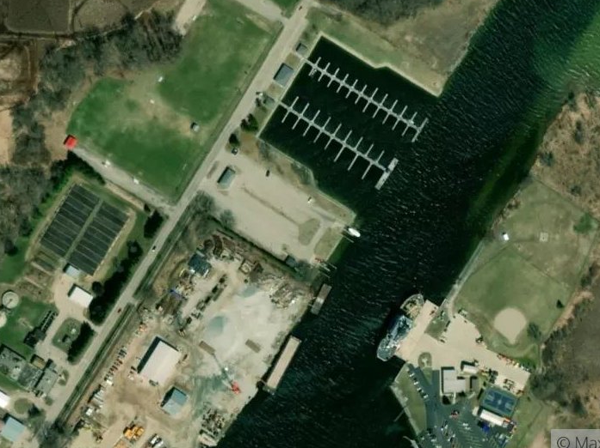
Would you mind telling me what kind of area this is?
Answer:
port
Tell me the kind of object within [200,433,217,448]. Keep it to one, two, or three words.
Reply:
ship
